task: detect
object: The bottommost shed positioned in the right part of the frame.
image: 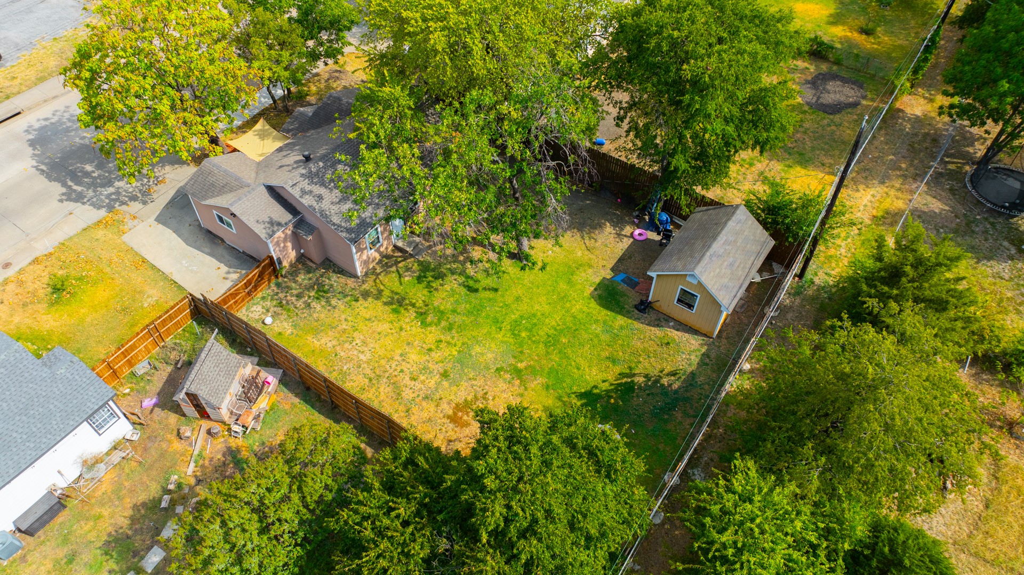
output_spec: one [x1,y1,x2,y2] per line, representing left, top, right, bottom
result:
[642,202,777,337]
